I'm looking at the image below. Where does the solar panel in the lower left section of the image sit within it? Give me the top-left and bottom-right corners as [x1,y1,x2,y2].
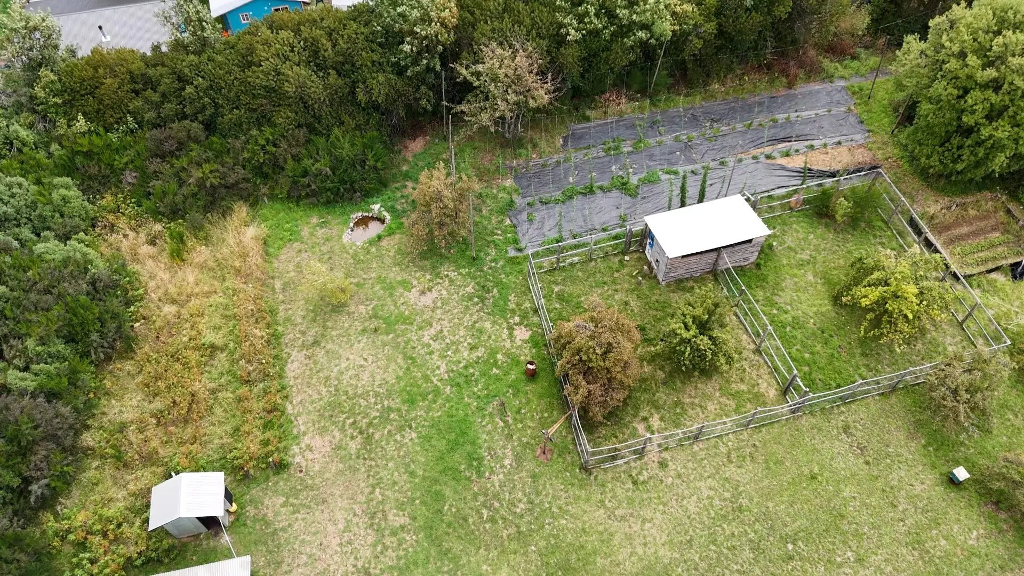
[224,484,239,518]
